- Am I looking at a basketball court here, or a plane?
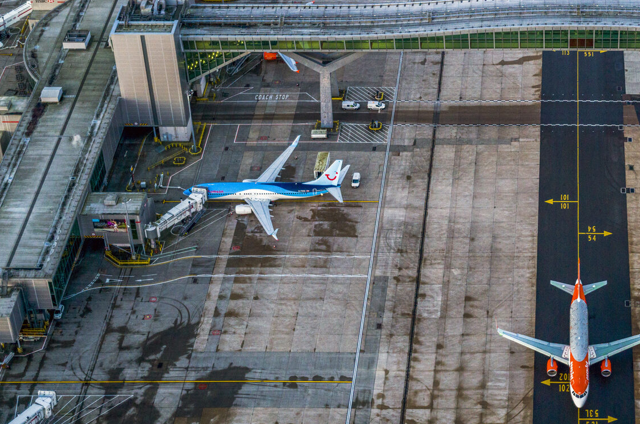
plane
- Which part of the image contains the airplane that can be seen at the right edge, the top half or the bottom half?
bottom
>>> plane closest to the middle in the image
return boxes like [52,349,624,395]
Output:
[184,135,345,239]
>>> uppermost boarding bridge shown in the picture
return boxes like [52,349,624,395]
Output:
[0,0,39,41]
